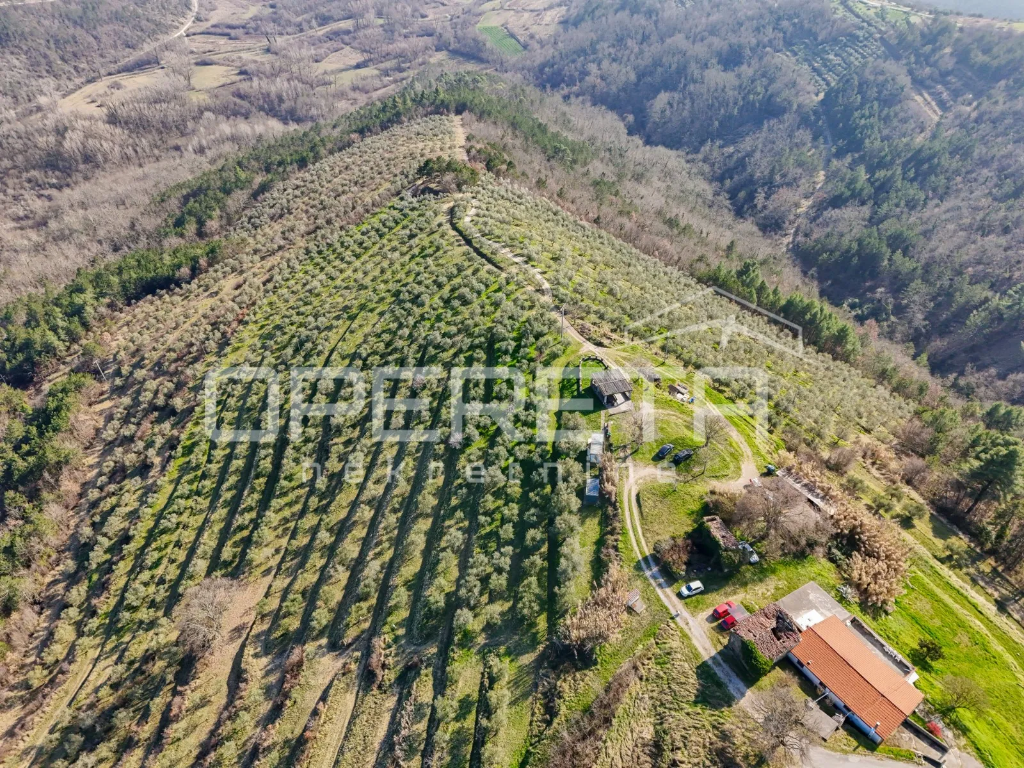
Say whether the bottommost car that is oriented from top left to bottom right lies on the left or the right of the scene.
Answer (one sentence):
You can find the bottommost car that is oriented from top left to bottom right on the right side of the picture.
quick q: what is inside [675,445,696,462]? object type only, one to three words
car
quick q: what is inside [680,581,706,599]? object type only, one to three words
car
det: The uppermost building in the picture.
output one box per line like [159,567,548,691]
[587,367,633,411]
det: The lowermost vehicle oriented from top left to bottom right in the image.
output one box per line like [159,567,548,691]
[739,542,762,564]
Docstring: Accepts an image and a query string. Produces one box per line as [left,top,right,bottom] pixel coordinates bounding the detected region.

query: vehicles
[722,616,744,632]
[713,600,736,620]
[680,581,706,599]
[739,542,762,564]
[656,442,676,458]
[675,445,696,462]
